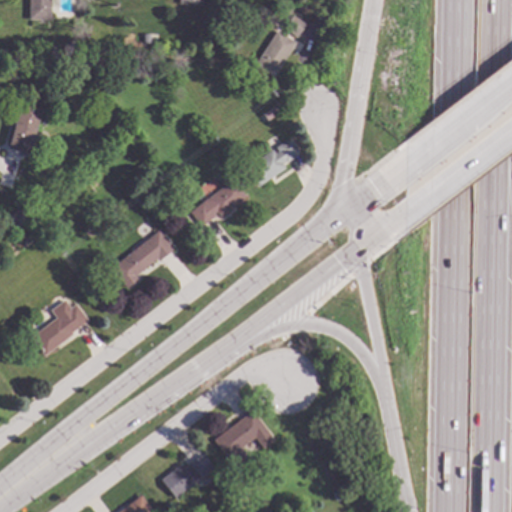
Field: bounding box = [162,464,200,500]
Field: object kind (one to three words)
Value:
house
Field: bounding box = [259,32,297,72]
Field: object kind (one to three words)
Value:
house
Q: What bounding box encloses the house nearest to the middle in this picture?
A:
[192,179,248,226]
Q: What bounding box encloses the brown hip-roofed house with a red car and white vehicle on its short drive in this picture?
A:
[37,298,90,355]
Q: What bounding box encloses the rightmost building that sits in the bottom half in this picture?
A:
[216,410,276,458]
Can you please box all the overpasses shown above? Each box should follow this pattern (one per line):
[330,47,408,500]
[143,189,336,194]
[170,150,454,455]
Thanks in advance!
[357,60,512,264]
